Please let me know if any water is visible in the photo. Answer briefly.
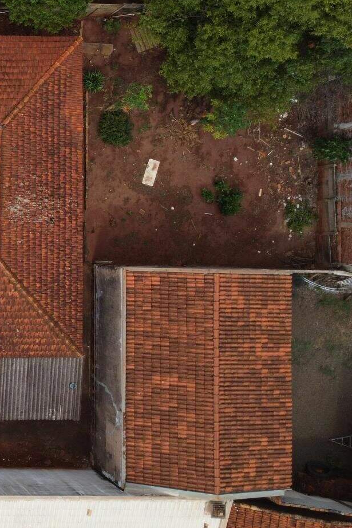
No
